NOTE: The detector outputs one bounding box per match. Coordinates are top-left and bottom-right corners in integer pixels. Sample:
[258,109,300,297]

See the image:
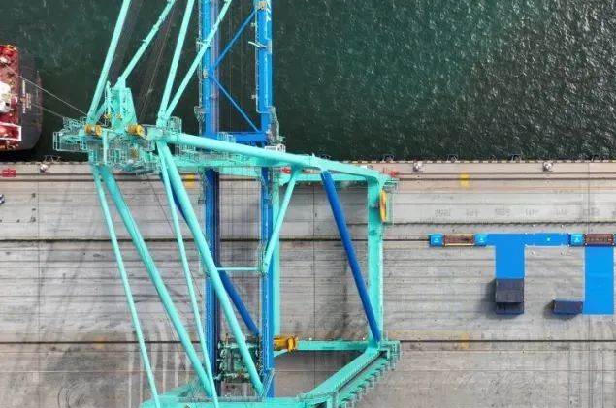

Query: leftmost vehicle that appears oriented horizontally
[430,233,486,245]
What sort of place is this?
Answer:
port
